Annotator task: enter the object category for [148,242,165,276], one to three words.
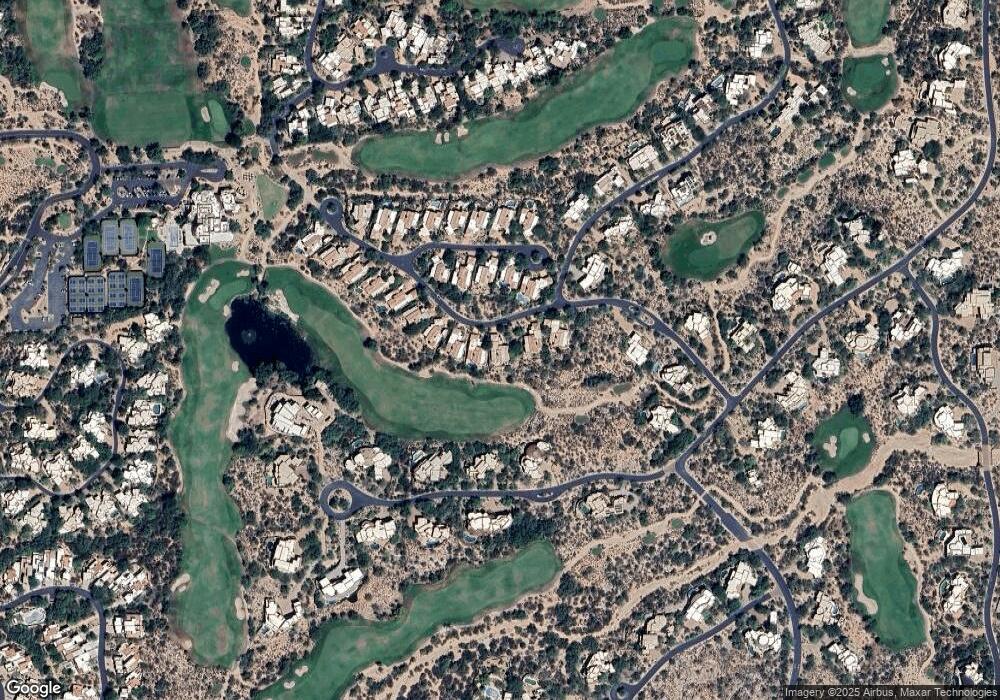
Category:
tennis court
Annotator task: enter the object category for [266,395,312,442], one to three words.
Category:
house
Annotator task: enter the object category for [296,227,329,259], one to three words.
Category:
house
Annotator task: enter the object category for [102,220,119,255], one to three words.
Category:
tennis court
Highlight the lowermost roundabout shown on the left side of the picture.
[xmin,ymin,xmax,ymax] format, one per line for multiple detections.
[321,480,360,519]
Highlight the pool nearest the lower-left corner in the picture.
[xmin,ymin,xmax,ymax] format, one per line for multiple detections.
[24,609,45,625]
